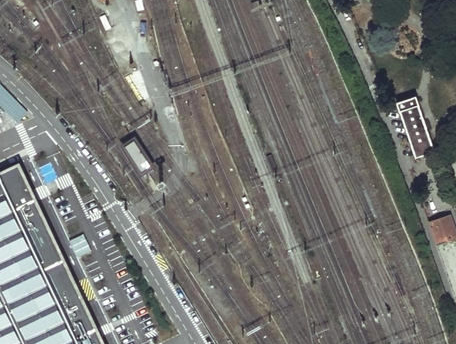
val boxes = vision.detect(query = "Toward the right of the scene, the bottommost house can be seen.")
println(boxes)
[429,216,456,244]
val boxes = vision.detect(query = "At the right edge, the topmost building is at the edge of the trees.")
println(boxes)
[397,97,434,160]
